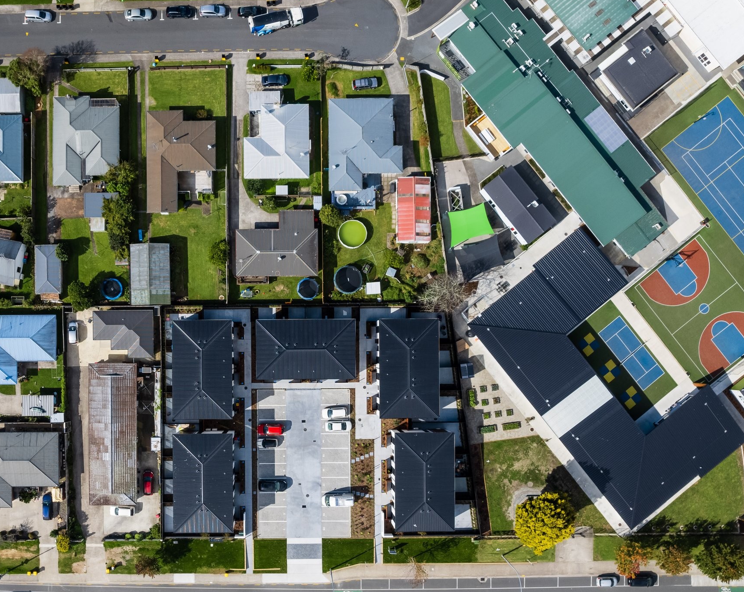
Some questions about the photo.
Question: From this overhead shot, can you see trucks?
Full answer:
Yes, the photo shows a truck.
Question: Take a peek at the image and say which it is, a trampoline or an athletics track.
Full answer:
The image shows a trampoline.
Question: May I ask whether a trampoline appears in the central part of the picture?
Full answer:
Yes, looking in the central part of the picture, one can make out a trampoline.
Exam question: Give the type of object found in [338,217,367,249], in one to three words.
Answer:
swimming pool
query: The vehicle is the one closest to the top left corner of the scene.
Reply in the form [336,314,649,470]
[22,8,53,23]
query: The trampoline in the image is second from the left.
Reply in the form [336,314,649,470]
[296,277,319,300]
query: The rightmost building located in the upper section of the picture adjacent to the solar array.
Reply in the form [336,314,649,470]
[593,29,677,112]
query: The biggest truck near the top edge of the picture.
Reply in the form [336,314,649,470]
[248,3,304,36]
